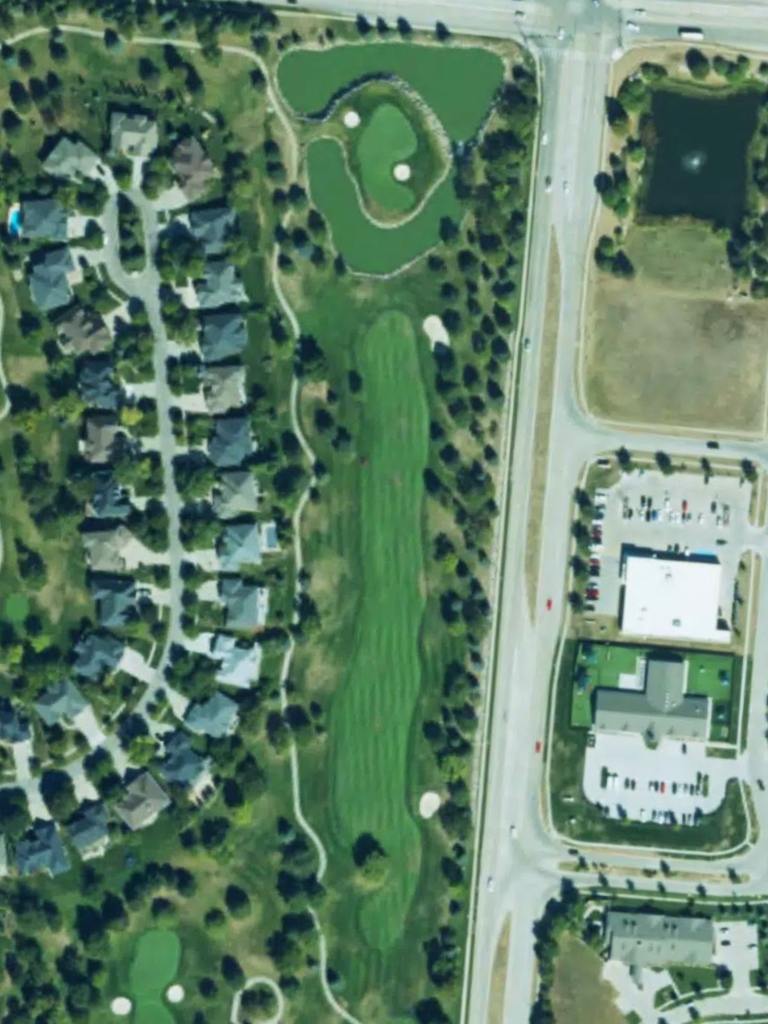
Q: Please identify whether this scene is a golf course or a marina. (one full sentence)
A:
The area seen from above is a golf course.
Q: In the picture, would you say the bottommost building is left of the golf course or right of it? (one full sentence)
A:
In the image, the bottommost building sits on the right side of the golf course.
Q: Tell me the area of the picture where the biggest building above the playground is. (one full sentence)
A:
The biggest building above the playground sits in the right section of the image.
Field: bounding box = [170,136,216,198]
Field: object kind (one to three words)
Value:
house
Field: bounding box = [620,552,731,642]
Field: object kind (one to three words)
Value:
building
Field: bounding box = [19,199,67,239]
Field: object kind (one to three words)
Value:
house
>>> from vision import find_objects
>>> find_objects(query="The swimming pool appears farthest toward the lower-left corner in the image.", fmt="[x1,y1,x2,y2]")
[262,522,281,552]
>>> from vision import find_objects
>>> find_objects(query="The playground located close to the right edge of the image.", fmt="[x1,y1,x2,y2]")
[572,644,733,742]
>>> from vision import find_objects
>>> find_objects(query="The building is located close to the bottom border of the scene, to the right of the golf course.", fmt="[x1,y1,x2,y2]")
[607,912,713,991]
